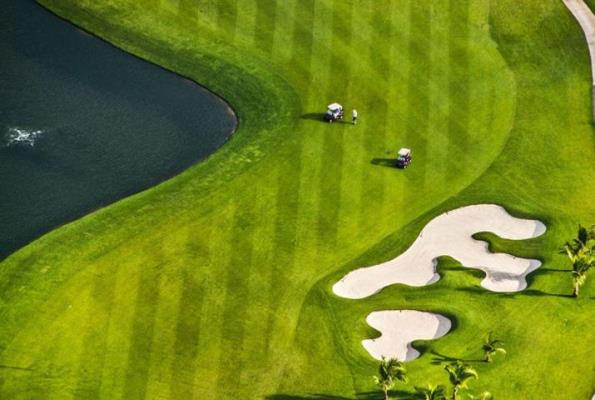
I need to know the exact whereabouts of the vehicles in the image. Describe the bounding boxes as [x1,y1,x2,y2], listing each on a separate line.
[396,148,412,170]
[325,102,346,122]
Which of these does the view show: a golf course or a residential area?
golf course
